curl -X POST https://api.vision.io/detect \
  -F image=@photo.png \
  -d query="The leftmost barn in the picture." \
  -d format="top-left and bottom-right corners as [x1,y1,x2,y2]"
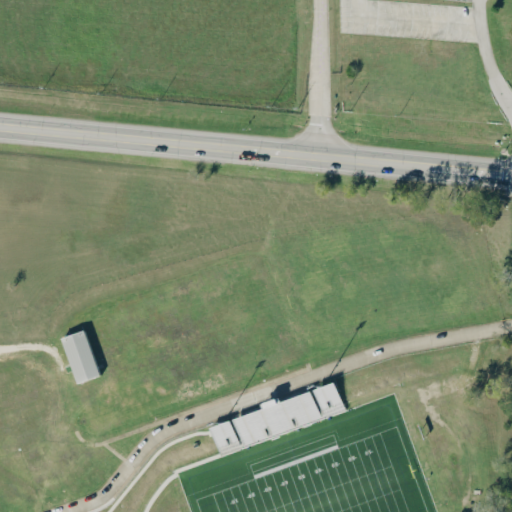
[61,331,102,384]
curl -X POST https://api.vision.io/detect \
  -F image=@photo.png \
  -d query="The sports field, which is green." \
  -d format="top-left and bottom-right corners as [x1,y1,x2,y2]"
[178,395,438,512]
